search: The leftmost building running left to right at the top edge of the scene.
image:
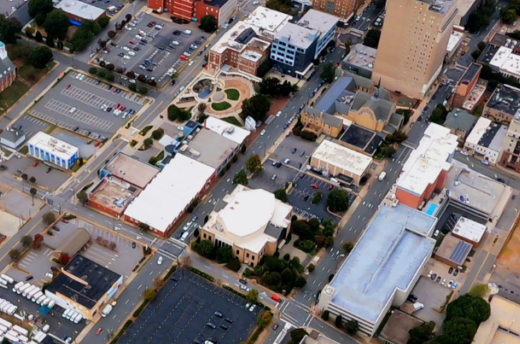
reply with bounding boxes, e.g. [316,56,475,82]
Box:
[54,0,105,24]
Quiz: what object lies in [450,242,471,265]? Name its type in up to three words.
solar panel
